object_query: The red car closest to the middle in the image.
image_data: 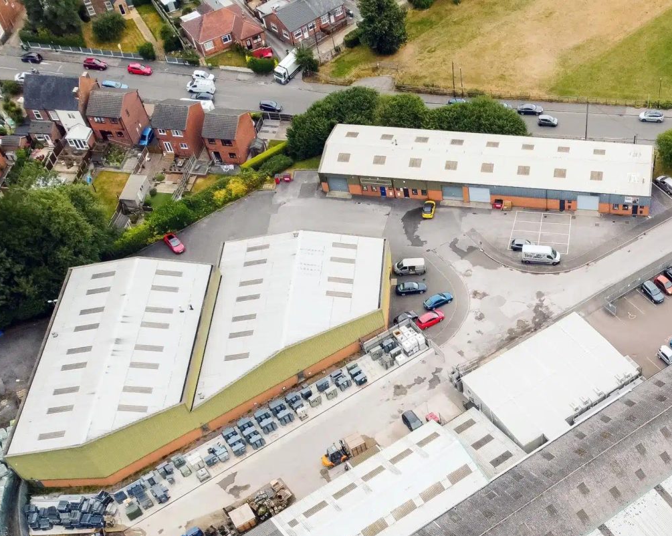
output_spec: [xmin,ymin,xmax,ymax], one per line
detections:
[416,313,444,329]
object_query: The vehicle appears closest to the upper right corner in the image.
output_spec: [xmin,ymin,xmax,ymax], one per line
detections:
[639,109,664,123]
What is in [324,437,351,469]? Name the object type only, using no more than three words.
work vehicle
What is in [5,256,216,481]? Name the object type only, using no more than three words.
warehouse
